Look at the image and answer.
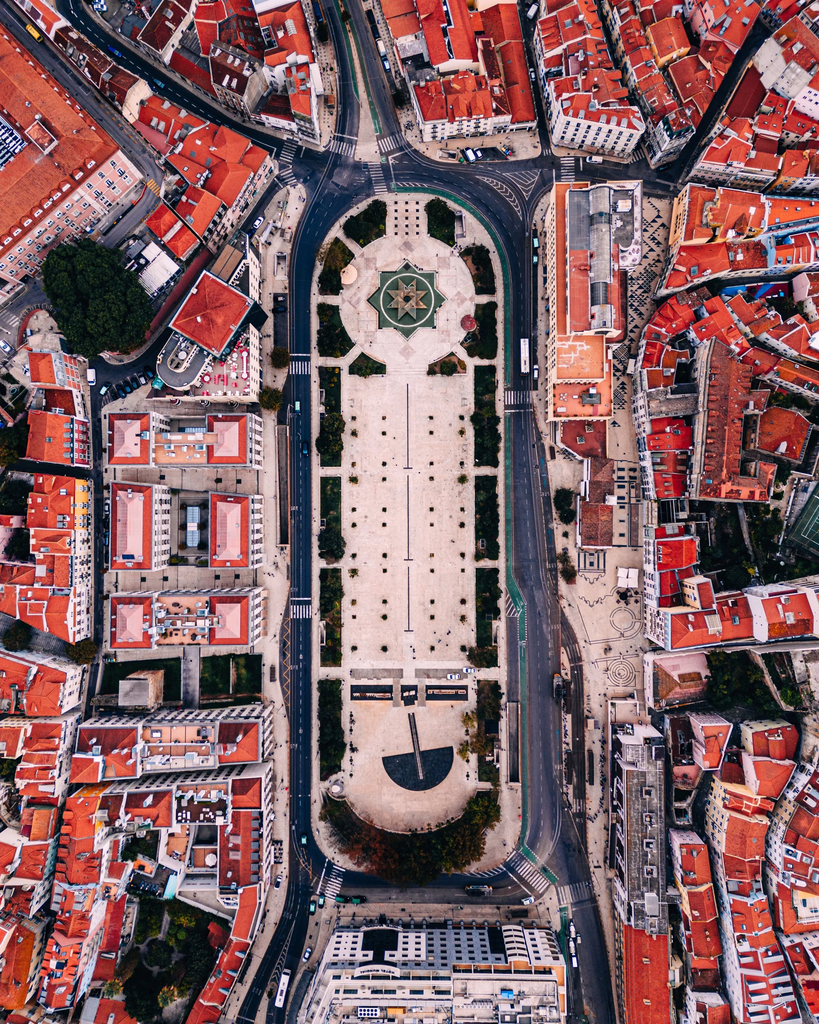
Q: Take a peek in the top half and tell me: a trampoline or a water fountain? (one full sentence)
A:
Looking in the top half, you will find a water fountain.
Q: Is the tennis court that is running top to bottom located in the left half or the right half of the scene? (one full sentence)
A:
You can find the tennis court that is running top to bottom on the right side of the picture.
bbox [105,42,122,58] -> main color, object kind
blue vehicle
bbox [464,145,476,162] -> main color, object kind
white vehicle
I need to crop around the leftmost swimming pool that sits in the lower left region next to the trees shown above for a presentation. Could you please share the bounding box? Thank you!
[163,874,177,898]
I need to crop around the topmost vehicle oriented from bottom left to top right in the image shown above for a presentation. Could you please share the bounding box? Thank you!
[527,2,540,18]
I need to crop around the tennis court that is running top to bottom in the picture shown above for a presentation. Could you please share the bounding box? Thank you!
[789,481,819,553]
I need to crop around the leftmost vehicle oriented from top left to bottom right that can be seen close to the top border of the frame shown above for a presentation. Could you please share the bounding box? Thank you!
[23,20,42,42]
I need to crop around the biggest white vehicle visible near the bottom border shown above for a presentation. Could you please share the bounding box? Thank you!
[274,969,289,1012]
